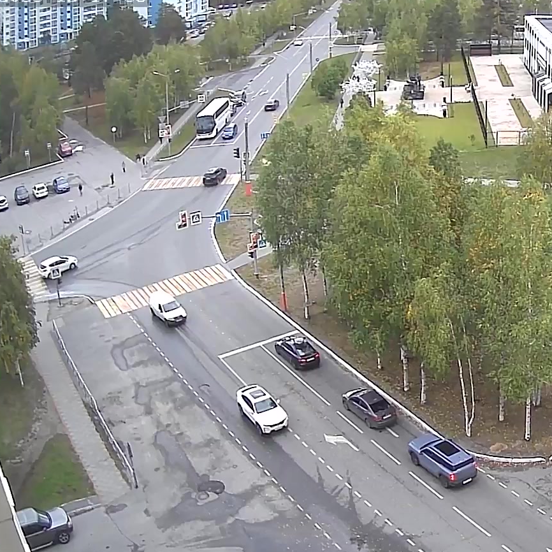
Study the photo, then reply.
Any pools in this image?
No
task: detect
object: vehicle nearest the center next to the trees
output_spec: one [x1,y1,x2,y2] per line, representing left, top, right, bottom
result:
[275,335,321,370]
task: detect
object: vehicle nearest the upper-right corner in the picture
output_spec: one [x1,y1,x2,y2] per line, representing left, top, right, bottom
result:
[399,75,430,102]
